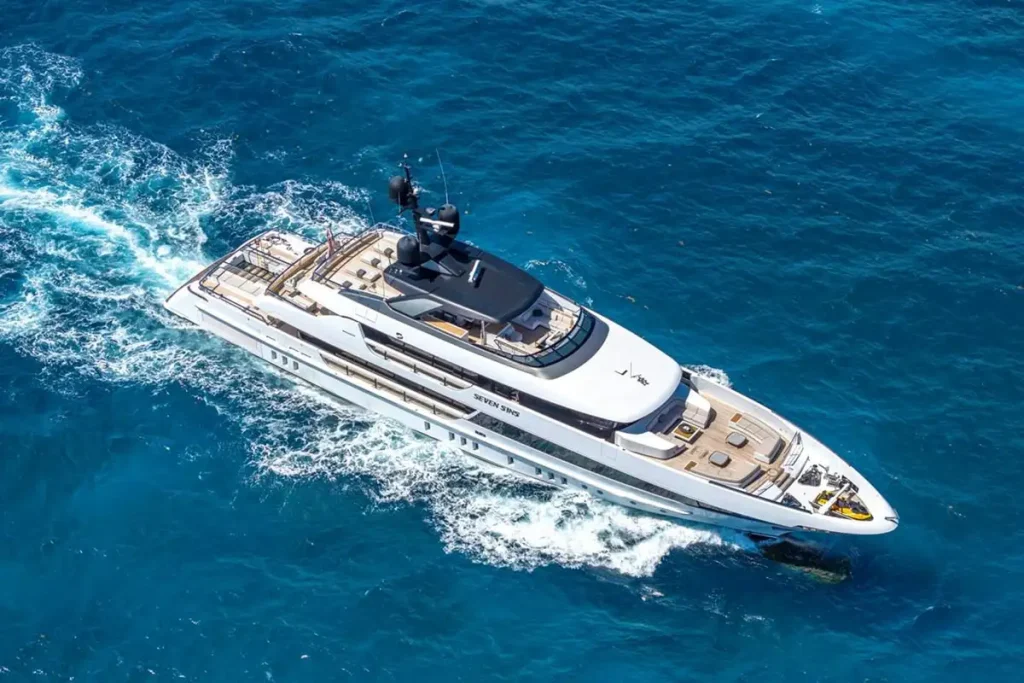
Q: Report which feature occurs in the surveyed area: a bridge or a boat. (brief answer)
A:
boat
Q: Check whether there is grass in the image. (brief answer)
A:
No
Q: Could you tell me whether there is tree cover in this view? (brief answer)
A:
No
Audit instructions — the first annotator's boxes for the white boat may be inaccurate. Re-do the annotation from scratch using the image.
[165,149,902,592]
